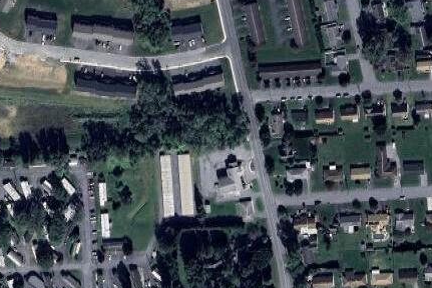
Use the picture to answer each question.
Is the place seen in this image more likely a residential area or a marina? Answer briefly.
residential area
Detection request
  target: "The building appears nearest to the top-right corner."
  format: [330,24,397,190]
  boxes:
[405,0,424,22]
